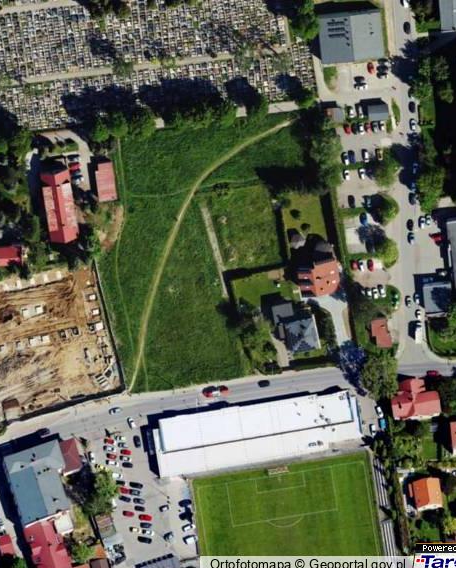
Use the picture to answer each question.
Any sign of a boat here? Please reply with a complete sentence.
No, the frame has no boat in it.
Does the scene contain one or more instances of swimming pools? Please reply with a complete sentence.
No, the picture doesn't show any swimming pool.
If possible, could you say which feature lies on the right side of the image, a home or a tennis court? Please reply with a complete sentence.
It is a home that can be seen on the right side of the image.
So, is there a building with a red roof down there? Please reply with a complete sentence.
Yes, the image includes a building with a red roof.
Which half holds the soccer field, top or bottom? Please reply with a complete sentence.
You can find the soccer field in the bottom half.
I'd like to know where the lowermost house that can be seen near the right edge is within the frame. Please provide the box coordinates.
[409,479,443,507]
